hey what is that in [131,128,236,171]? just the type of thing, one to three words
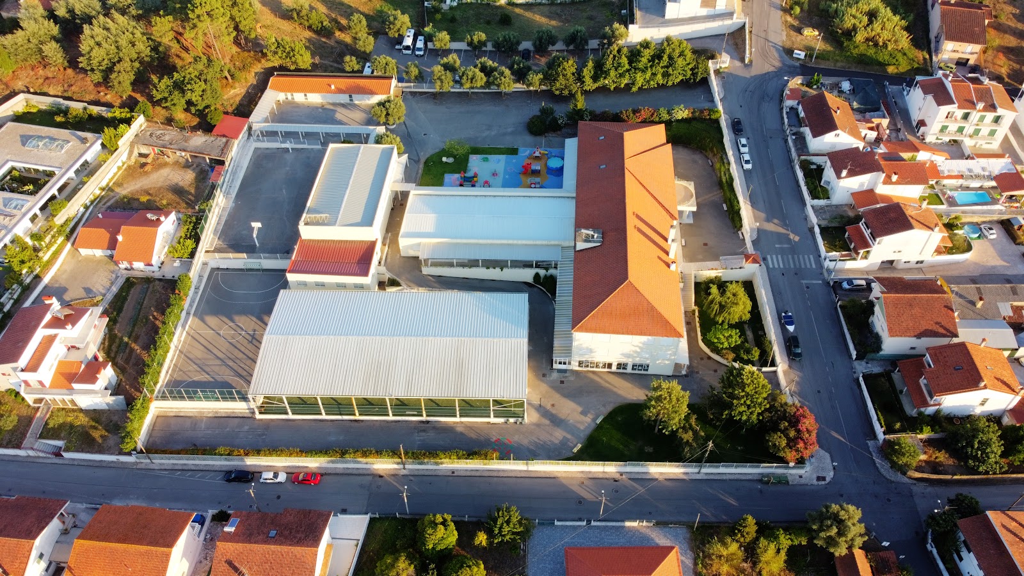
shed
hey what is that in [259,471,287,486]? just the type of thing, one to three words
car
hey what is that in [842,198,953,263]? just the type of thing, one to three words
house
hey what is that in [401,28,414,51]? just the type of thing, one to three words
vehicle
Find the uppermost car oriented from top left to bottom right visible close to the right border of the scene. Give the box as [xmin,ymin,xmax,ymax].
[978,223,1000,240]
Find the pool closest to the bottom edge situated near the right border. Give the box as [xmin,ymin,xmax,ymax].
[962,225,988,243]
